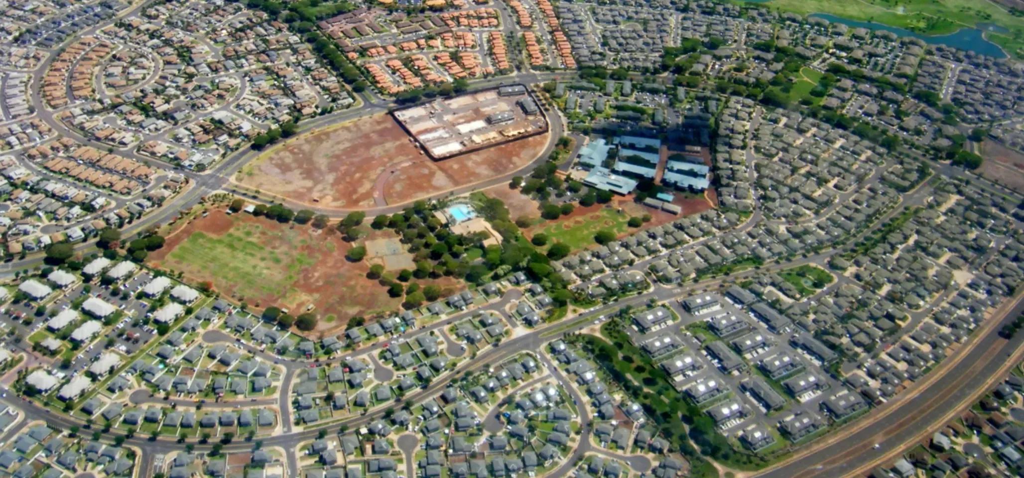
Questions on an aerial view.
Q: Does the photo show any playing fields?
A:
Yes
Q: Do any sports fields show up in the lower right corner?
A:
No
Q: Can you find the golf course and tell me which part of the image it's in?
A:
top right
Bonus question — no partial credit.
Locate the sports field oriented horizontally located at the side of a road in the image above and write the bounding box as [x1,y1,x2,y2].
[145,203,462,337]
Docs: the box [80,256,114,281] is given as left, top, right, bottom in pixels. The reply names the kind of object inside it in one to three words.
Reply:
building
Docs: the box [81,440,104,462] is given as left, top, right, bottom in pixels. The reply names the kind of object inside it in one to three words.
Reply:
house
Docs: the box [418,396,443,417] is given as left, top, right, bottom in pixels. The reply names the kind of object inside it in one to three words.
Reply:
house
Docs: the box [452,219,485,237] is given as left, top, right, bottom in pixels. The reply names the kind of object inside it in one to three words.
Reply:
building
